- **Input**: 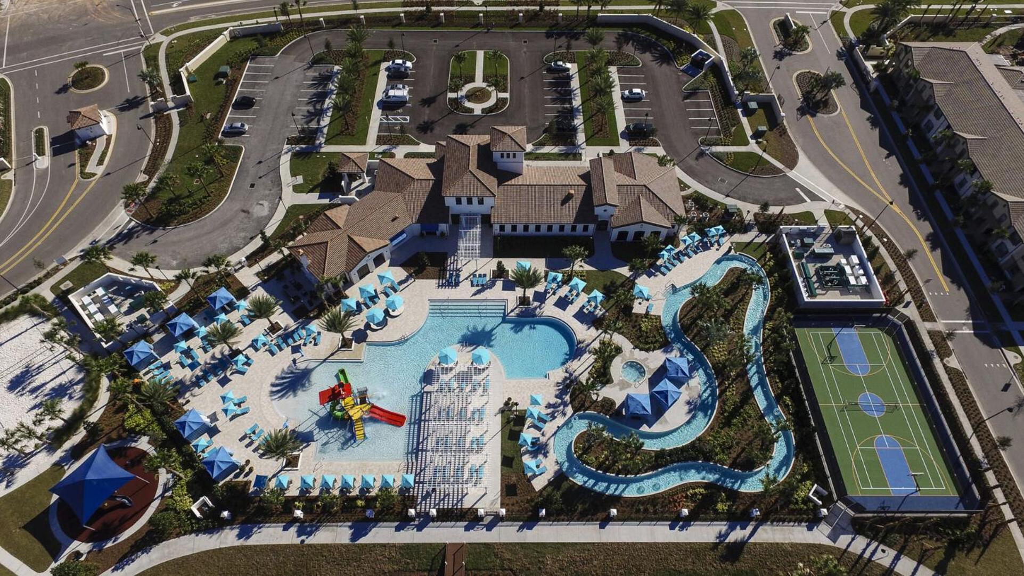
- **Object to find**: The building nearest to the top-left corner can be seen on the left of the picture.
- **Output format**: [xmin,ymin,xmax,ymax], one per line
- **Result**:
[59,104,107,141]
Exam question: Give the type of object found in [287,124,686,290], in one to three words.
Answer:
building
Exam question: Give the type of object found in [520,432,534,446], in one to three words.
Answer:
umbrella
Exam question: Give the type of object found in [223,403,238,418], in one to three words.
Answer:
umbrella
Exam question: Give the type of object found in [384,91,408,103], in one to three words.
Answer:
vehicle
